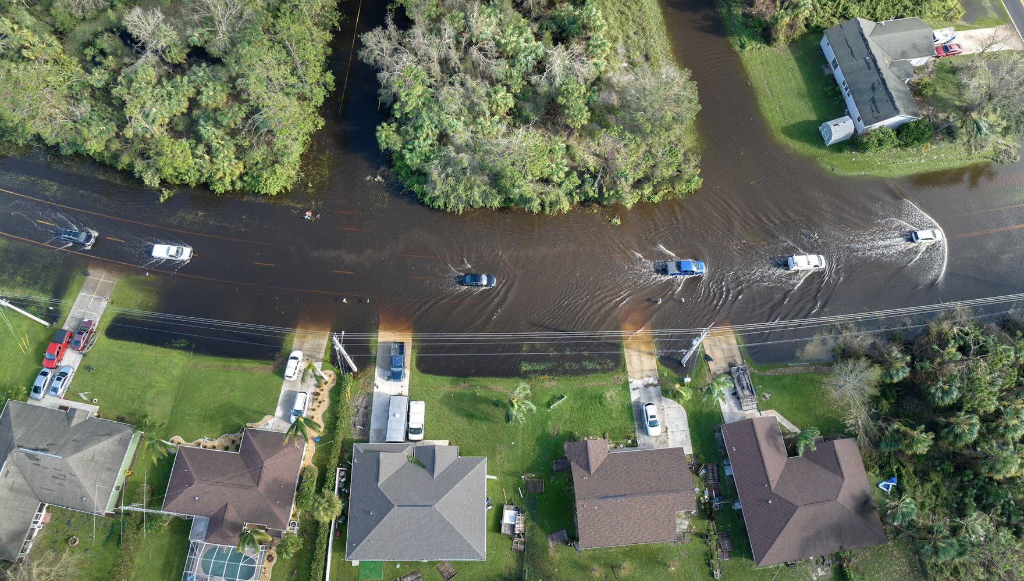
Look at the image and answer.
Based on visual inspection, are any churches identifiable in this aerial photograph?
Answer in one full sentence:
No, I can see no church in this picture.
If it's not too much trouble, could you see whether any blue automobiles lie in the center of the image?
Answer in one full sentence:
Yes, in the center of the image there is a blue automobile.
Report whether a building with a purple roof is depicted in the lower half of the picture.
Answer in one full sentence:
No, in the lower half of the picture there is no building with a purple roof.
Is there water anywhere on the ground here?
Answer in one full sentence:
Yes, there is water in the image.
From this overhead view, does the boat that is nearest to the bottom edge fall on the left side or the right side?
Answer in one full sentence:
The boat that is nearest to the bottom edge sits on the left side.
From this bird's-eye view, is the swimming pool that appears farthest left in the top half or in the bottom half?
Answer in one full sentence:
It is in the bottom half that the swimming pool that appears farthest left appears.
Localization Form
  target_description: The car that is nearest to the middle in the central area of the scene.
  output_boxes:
[463,272,496,288]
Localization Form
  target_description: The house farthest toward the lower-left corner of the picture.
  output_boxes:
[0,400,138,563]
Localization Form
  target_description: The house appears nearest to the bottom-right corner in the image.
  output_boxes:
[720,416,888,567]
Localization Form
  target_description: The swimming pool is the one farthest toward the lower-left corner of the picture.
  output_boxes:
[200,545,257,581]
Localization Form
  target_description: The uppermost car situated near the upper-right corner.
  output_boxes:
[935,44,965,59]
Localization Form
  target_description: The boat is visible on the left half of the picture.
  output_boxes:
[78,328,100,357]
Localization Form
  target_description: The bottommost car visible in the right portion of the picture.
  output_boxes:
[641,402,661,437]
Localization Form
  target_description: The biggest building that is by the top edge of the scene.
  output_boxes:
[821,17,935,135]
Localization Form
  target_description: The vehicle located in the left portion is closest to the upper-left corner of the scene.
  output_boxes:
[58,226,99,246]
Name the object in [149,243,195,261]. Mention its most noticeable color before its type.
white vehicle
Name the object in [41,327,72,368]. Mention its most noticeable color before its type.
red truck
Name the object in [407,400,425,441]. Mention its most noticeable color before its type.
white vehicle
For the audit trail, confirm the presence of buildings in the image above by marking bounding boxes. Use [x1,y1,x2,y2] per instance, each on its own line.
[162,428,307,546]
[821,17,935,135]
[0,400,138,563]
[346,444,497,560]
[567,440,697,550]
[720,416,888,567]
